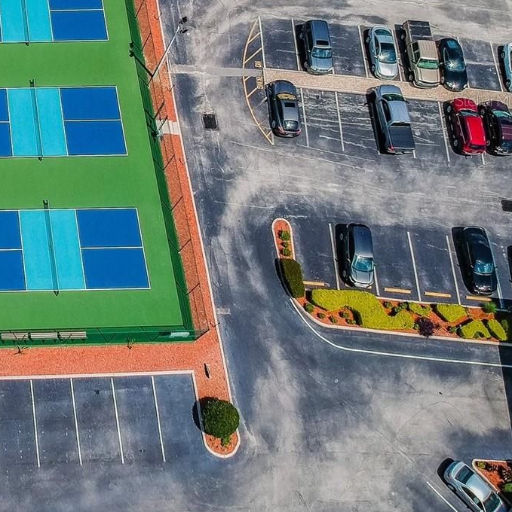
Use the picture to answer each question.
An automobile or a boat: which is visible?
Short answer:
automobile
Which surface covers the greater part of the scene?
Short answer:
paved ground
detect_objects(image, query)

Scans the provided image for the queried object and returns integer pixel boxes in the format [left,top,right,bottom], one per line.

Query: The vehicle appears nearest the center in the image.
[343,224,381,287]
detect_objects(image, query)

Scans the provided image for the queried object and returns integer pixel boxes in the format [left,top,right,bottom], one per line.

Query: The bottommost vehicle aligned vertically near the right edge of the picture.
[459,227,501,295]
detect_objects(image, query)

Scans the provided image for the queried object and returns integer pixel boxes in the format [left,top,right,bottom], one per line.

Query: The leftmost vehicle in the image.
[268,80,300,138]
